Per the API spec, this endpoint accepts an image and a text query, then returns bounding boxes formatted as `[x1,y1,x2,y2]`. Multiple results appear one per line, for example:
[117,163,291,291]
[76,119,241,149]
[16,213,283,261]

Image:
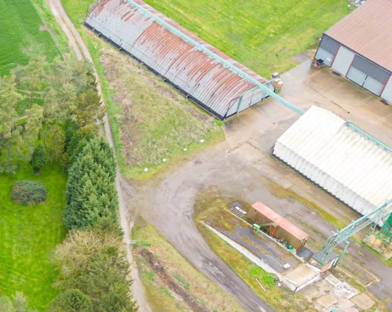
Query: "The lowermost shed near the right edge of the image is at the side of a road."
[272,106,392,226]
